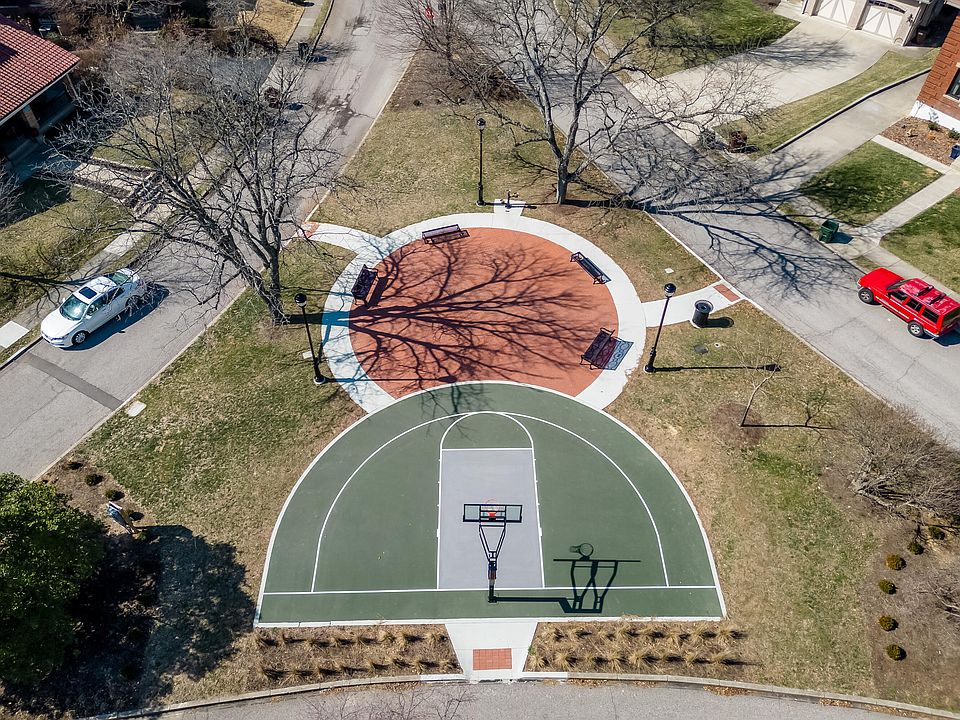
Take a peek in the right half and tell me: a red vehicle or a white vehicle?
red vehicle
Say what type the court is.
basketball court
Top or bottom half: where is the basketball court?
bottom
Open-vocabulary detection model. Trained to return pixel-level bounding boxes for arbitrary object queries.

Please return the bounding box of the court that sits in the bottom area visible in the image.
[256,381,726,628]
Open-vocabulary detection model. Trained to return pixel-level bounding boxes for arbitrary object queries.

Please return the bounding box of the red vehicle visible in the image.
[853,266,960,343]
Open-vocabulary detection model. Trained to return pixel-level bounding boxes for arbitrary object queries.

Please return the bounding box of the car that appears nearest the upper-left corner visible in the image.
[39,269,148,348]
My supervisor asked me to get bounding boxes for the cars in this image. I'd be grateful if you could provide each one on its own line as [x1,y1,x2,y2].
[853,266,960,343]
[39,269,148,348]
